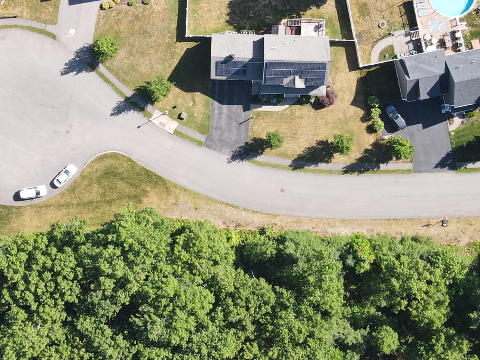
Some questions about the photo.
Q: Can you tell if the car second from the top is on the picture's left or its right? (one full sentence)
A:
You can find the car second from the top on the left side of the picture.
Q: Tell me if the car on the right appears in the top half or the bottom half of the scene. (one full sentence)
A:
The car on the right sits in the top half of the picture.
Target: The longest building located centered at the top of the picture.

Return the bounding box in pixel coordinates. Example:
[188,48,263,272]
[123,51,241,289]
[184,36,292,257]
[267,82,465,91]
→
[209,33,331,98]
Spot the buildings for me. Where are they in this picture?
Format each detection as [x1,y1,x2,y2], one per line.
[209,33,331,98]
[396,49,480,113]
